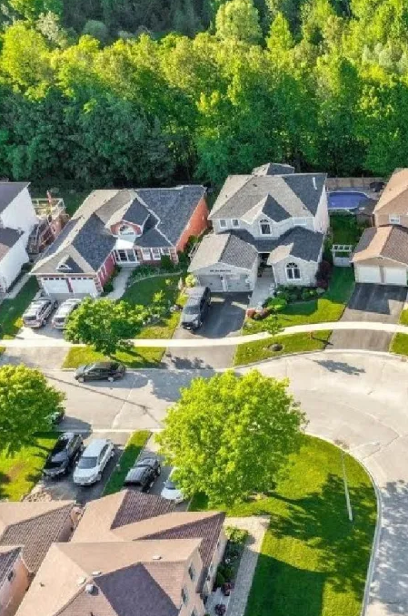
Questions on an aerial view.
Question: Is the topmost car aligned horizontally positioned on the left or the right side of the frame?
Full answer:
The topmost car aligned horizontally appears in the left half of the scene.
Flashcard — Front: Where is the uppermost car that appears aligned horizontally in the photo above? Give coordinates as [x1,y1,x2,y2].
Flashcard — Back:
[72,360,128,382]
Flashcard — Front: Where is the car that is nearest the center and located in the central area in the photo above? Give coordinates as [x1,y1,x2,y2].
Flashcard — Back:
[181,294,210,327]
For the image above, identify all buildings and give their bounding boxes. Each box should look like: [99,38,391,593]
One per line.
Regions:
[350,167,408,284]
[15,486,228,616]
[187,157,328,292]
[31,184,209,295]
[0,183,38,289]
